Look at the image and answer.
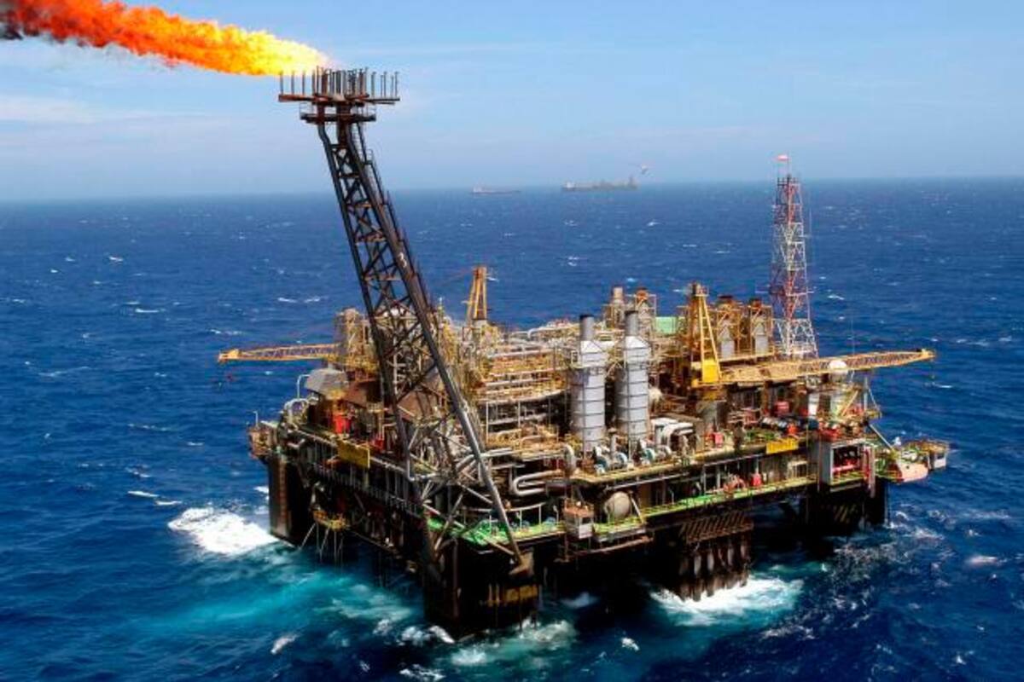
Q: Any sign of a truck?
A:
No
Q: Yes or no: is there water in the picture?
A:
Yes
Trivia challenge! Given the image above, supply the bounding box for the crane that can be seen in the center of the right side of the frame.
[684,283,934,431]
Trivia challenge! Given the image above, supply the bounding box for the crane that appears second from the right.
[382,262,501,357]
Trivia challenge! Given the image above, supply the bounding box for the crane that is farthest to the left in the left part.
[220,306,381,395]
